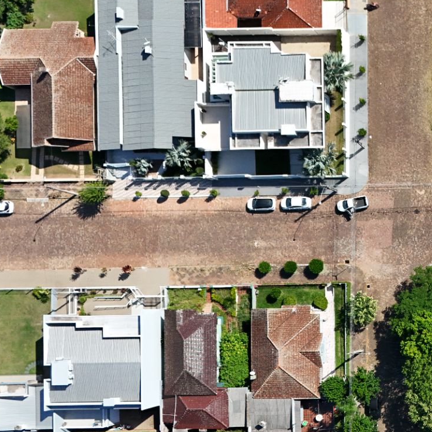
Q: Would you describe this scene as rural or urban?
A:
urban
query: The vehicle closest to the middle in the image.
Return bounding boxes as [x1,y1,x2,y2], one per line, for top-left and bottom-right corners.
[248,196,276,212]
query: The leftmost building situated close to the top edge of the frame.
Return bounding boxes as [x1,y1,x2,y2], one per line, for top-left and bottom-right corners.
[0,21,98,151]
